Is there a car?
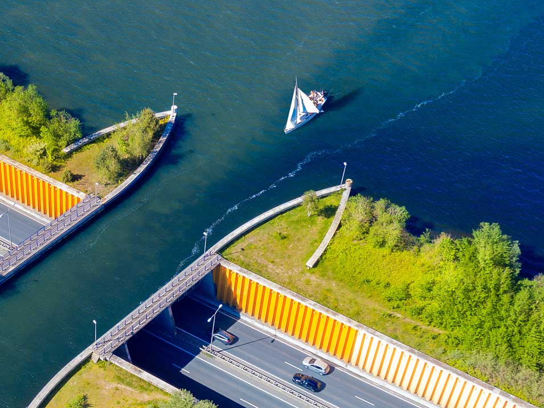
Yes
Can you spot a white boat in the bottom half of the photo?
No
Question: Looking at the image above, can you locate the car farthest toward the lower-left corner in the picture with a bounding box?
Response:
[211,331,238,349]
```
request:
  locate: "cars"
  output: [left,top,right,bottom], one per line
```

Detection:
[292,373,324,393]
[211,331,238,349]
[302,357,331,377]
